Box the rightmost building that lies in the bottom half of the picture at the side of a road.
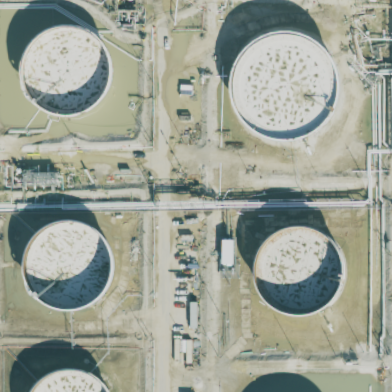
[222,239,234,266]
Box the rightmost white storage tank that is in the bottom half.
[252,226,346,317]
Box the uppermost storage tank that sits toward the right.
[229,30,340,140]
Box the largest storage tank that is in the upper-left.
[20,24,114,116]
